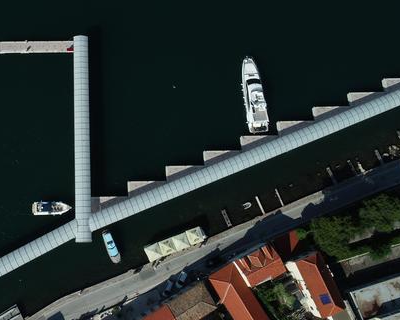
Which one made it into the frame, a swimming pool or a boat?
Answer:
boat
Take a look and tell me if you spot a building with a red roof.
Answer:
Yes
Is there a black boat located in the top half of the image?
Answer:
No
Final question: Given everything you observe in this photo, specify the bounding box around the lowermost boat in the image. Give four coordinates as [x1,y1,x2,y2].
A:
[102,229,120,264]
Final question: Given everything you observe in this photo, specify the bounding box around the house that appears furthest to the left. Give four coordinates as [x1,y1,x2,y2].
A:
[138,305,175,320]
